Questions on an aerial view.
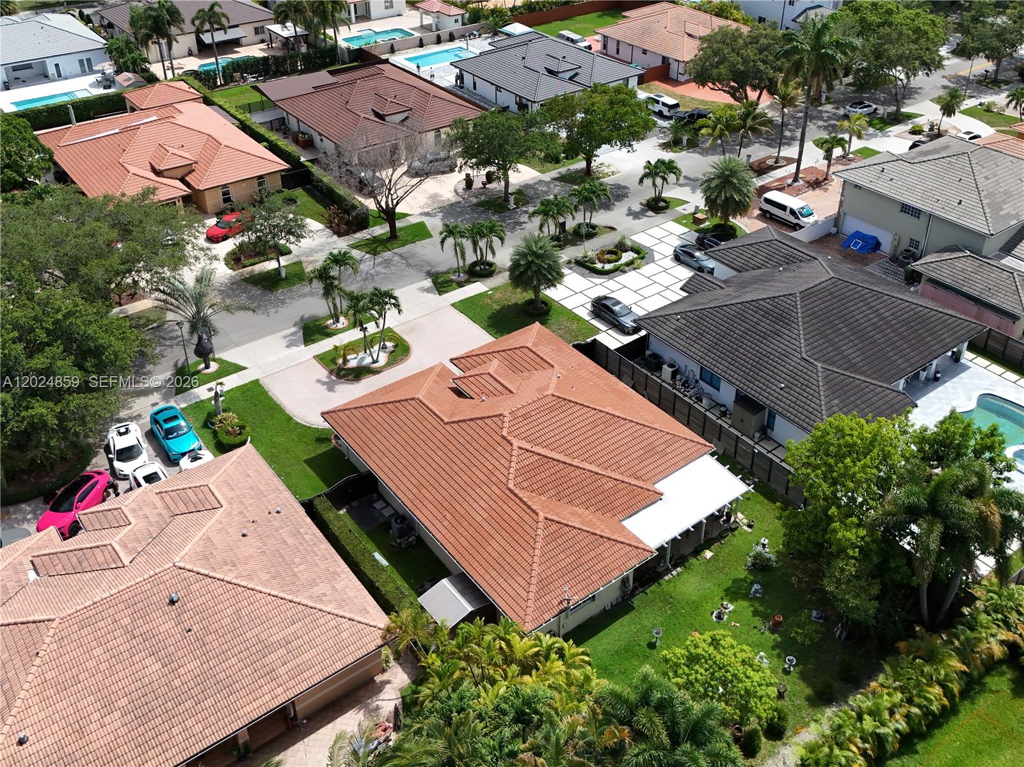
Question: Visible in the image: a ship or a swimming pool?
swimming pool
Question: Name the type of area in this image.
residential area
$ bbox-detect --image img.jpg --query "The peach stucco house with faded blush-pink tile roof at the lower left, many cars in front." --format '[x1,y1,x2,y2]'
[0,440,402,767]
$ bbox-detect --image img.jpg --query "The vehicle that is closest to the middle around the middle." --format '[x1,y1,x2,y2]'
[586,297,642,336]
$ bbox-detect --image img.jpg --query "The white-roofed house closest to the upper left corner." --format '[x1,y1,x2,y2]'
[0,11,107,86]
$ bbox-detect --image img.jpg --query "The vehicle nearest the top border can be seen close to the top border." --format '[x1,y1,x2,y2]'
[558,31,589,48]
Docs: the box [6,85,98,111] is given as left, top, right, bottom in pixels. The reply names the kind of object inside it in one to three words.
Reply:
swimming pool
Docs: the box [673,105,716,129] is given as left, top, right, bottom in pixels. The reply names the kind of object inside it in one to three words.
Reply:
truck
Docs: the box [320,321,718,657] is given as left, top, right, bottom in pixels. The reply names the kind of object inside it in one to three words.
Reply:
house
